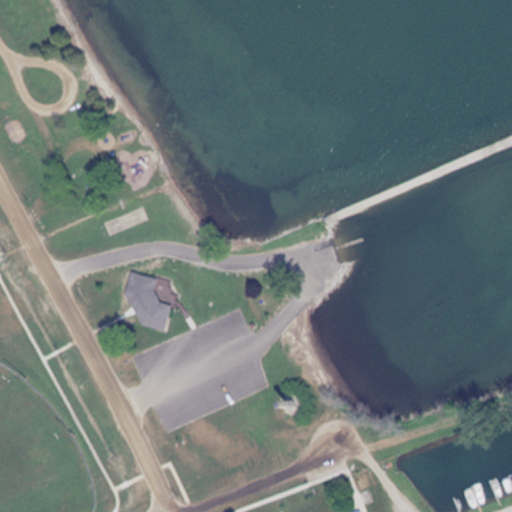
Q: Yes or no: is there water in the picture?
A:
Yes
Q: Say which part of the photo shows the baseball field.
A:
bottom left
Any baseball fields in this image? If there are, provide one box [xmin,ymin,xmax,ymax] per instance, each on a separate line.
[0,362,97,512]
